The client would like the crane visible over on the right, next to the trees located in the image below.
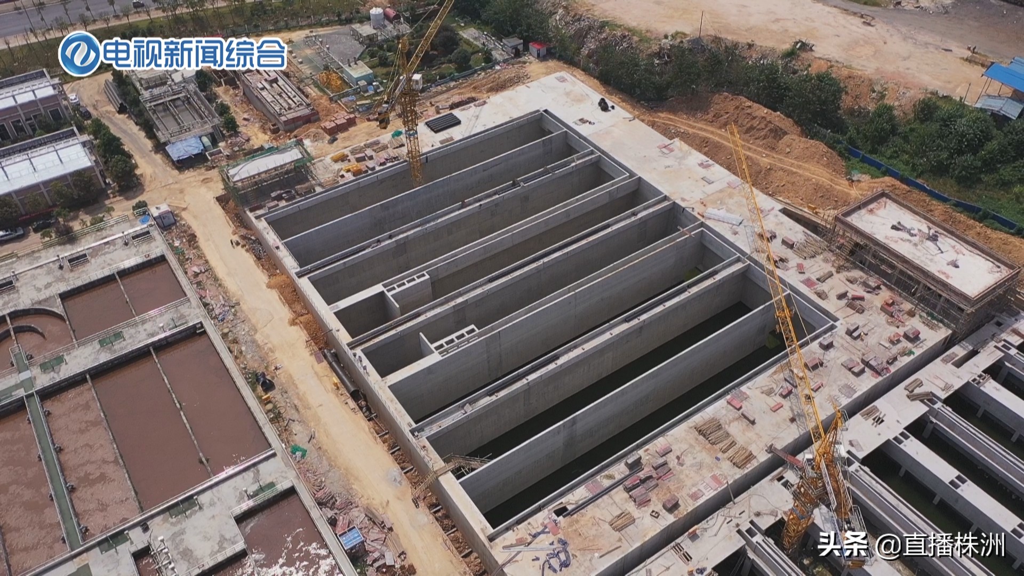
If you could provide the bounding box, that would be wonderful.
[727,121,879,576]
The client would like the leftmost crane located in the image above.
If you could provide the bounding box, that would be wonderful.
[373,0,453,191]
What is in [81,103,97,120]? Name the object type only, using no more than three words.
car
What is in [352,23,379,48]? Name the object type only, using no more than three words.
shed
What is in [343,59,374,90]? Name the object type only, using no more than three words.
house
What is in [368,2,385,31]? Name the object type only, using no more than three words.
silo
